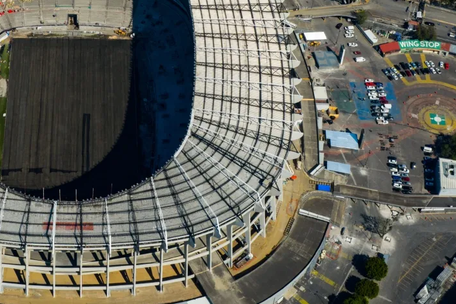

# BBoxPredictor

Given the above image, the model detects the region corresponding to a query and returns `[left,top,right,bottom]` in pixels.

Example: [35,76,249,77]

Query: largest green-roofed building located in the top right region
[397,39,441,56]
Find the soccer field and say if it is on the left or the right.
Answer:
left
